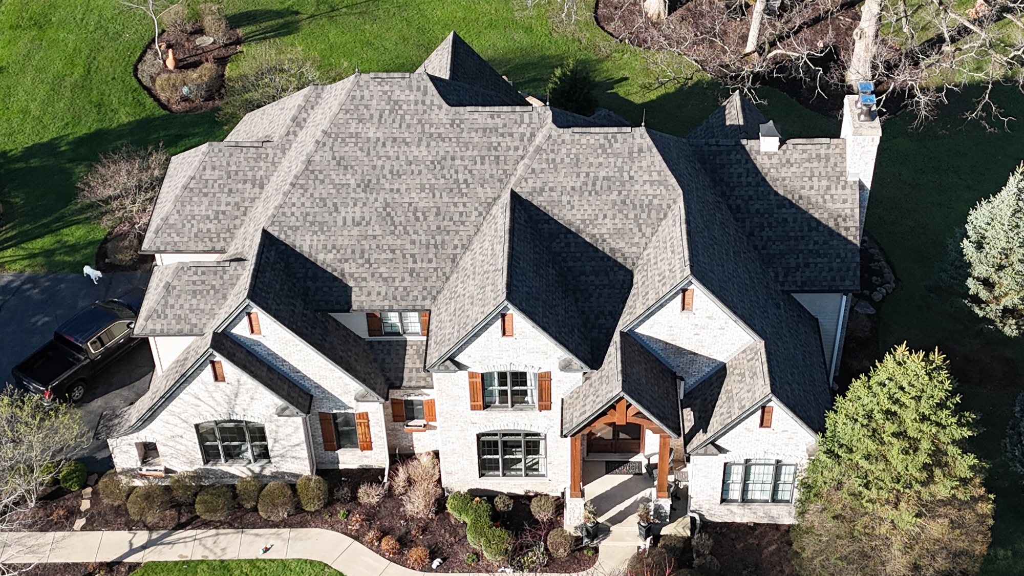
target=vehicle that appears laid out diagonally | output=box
[10,283,151,416]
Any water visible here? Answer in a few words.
No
